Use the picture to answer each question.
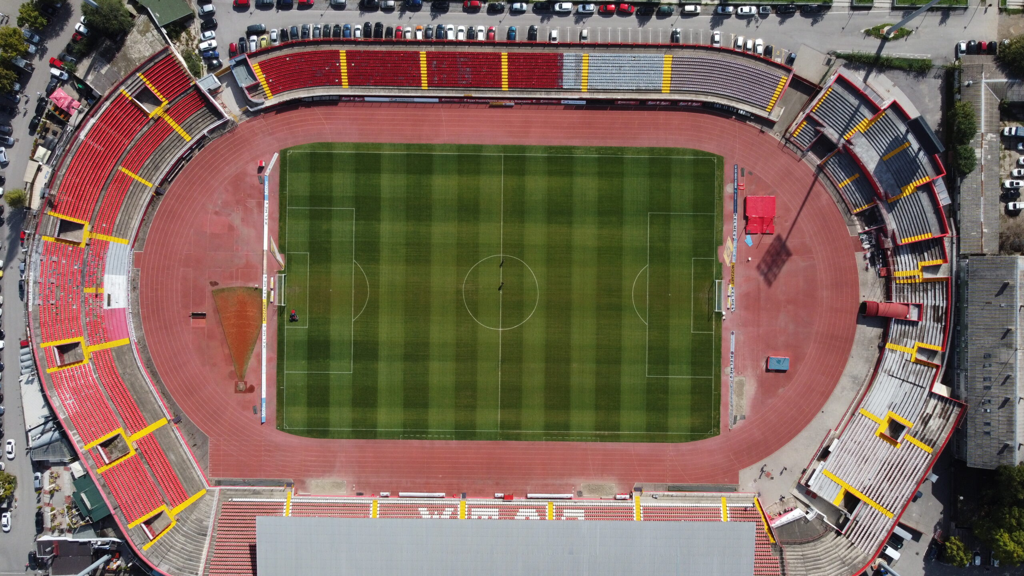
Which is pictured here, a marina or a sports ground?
sports ground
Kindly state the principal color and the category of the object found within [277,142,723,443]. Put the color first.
green soccer field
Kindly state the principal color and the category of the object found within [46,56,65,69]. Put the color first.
red vehicle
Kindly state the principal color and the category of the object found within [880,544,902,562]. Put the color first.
white vehicle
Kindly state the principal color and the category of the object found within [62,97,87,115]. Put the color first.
pink umbrella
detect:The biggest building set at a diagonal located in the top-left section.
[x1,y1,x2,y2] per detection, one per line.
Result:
[66,15,169,95]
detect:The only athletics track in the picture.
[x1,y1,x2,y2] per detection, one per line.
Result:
[134,104,869,497]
